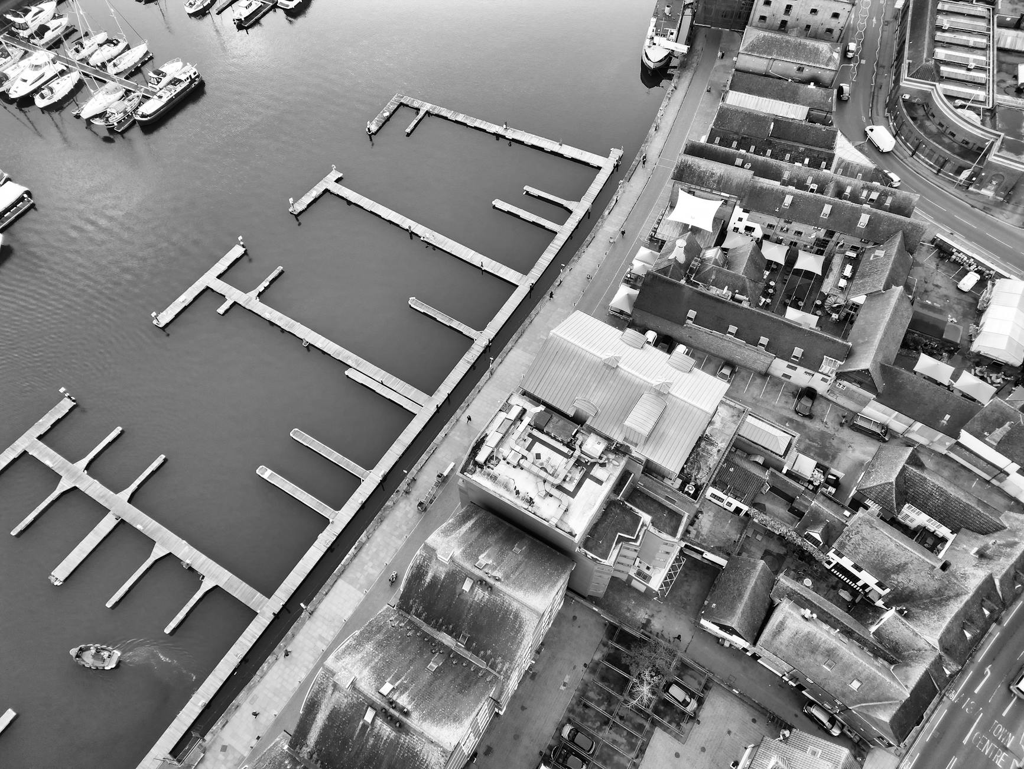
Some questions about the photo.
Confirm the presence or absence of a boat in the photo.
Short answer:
Yes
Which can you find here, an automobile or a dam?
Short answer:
automobile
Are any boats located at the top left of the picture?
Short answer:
Yes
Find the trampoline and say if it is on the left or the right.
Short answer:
right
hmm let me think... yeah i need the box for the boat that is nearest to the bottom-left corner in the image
[68,640,125,669]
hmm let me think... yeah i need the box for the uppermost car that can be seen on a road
[844,45,857,60]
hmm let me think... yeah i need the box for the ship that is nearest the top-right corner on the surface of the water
[643,0,681,75]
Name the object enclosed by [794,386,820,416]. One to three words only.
car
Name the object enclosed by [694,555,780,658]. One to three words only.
house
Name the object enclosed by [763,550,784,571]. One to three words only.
trampoline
